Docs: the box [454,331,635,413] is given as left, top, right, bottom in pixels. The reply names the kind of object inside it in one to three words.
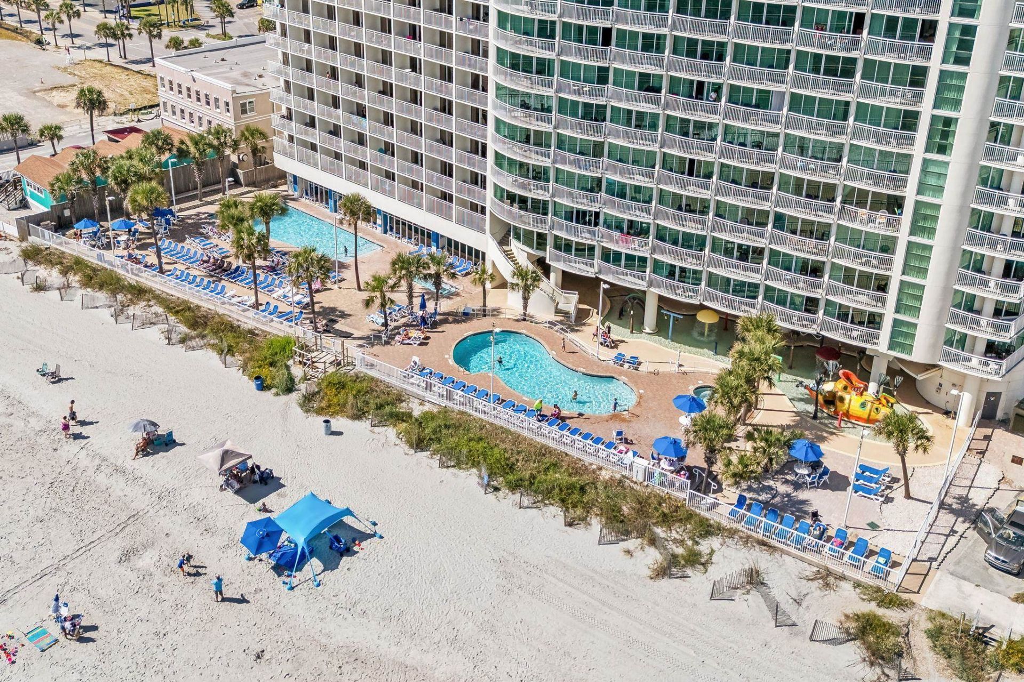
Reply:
swimming pool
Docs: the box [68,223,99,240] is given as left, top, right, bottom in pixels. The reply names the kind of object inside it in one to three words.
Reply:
umbrella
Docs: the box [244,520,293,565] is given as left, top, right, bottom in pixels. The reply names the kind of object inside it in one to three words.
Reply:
umbrella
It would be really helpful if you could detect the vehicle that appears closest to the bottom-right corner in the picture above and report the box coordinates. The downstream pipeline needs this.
[980,508,1024,566]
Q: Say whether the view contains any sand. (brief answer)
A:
Yes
